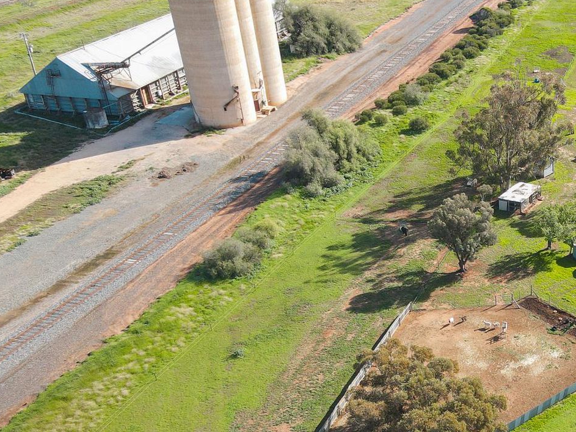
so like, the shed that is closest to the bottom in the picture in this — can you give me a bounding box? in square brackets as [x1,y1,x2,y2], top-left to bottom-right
[488,183,547,214]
